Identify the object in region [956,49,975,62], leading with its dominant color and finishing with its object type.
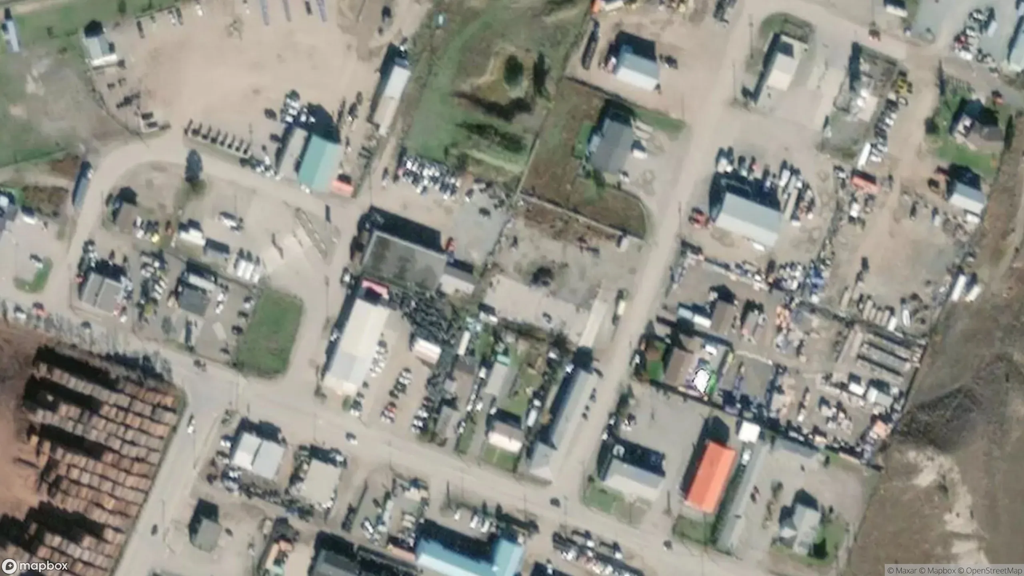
white vehicle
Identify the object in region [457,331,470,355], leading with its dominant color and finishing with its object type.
white vehicle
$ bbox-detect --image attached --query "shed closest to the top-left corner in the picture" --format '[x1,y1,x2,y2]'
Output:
[4,20,22,52]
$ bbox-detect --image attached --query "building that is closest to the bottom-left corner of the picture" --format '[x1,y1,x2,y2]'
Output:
[189,516,222,552]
